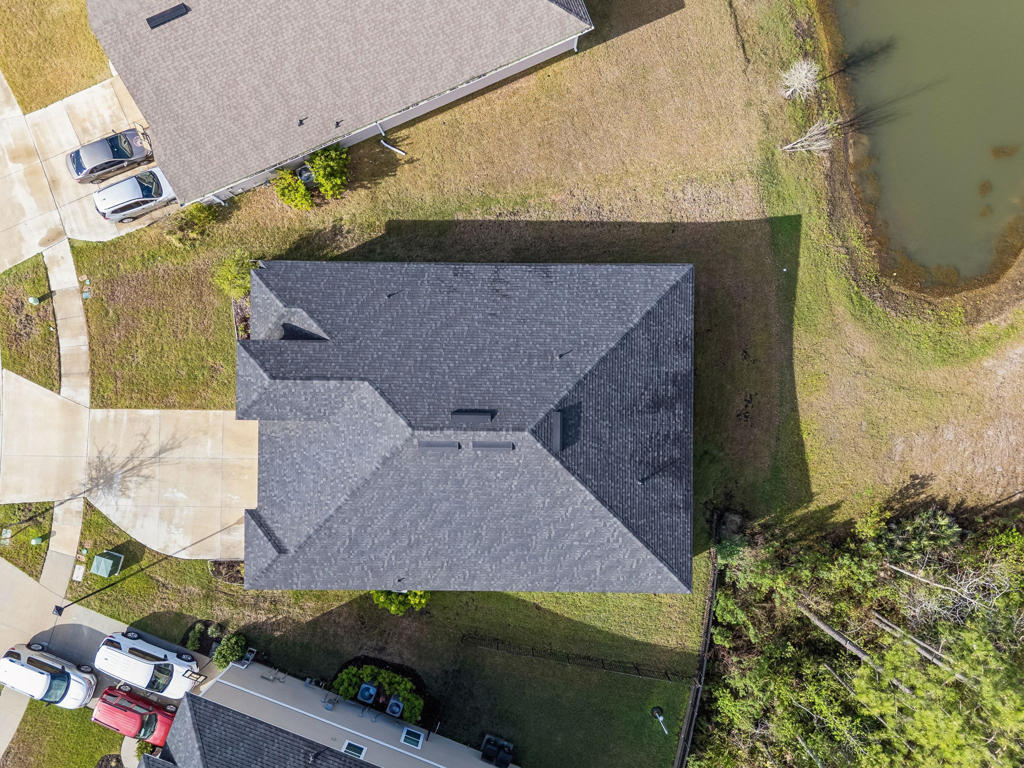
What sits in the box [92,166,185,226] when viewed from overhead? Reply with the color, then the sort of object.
white car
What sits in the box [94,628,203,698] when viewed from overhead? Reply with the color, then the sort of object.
white car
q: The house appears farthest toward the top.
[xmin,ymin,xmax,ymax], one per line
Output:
[85,0,597,209]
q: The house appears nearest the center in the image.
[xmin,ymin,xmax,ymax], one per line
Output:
[234,259,695,595]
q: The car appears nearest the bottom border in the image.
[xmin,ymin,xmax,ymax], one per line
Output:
[87,679,179,748]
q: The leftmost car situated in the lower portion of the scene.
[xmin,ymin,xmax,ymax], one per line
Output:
[0,639,101,709]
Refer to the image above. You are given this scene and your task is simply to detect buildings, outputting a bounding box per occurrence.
[85,0,597,209]
[139,657,522,768]
[234,259,695,595]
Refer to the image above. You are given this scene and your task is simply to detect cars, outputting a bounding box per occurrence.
[87,679,179,748]
[0,639,101,709]
[94,628,203,698]
[60,126,160,188]
[92,166,185,226]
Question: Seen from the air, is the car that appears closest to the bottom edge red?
Yes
